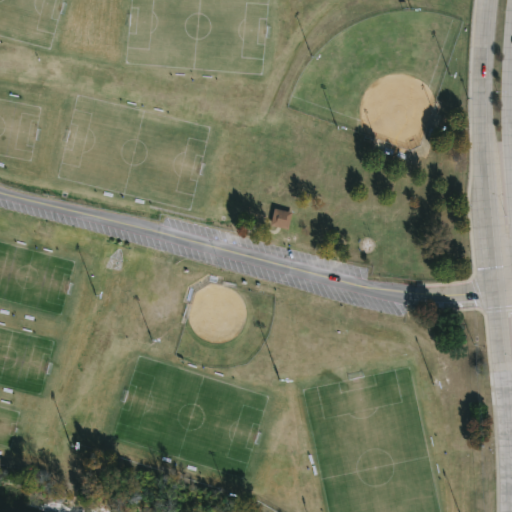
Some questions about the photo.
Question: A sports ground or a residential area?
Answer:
sports ground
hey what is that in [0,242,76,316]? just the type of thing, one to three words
soccer field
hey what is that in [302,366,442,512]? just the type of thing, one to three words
soccer field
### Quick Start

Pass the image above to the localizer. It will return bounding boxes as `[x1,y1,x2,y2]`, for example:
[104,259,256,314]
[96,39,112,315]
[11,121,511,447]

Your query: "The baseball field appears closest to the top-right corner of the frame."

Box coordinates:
[312,24,452,150]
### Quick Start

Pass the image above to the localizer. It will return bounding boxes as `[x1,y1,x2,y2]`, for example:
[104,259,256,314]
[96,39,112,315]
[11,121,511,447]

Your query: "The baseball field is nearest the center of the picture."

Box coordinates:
[184,275,248,344]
